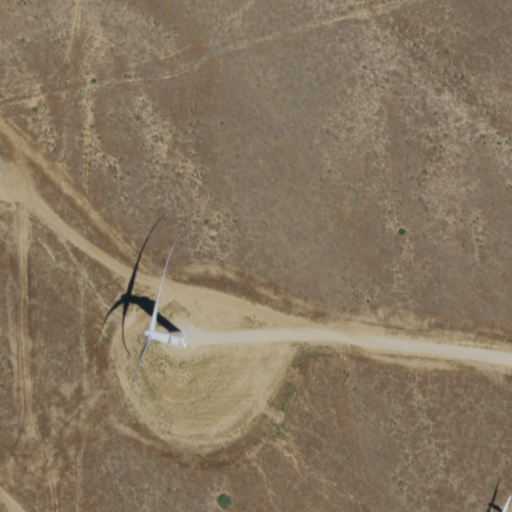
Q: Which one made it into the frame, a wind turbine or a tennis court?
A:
wind turbine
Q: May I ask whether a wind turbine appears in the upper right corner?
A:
No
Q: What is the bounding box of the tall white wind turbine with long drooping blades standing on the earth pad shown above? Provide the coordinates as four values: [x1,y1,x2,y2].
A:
[132,234,188,396]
